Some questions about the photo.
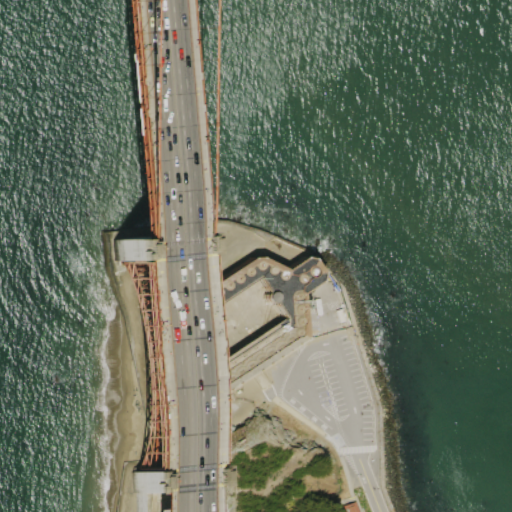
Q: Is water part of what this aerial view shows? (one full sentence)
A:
Yes, there is water in the image.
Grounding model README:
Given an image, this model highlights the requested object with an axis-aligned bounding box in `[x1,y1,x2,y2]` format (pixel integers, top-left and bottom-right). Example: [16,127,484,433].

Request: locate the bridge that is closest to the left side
[118,0,231,512]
